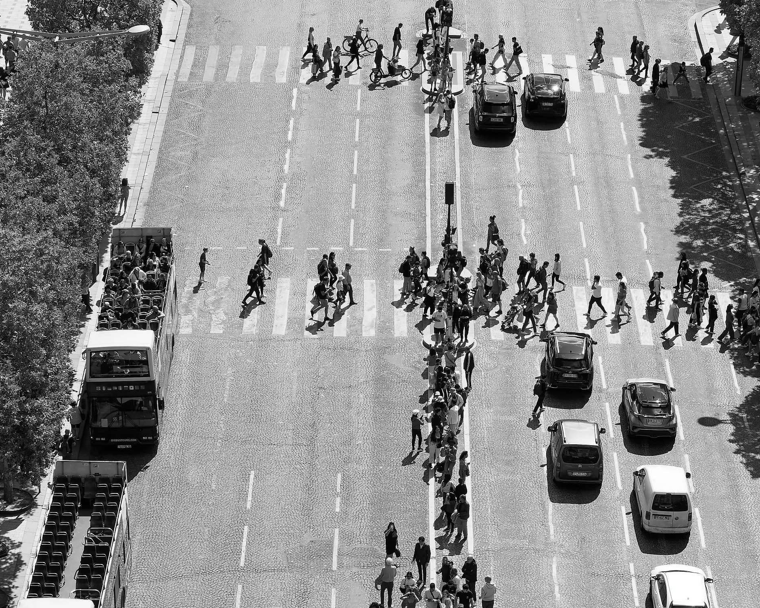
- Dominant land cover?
paved ground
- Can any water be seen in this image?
No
